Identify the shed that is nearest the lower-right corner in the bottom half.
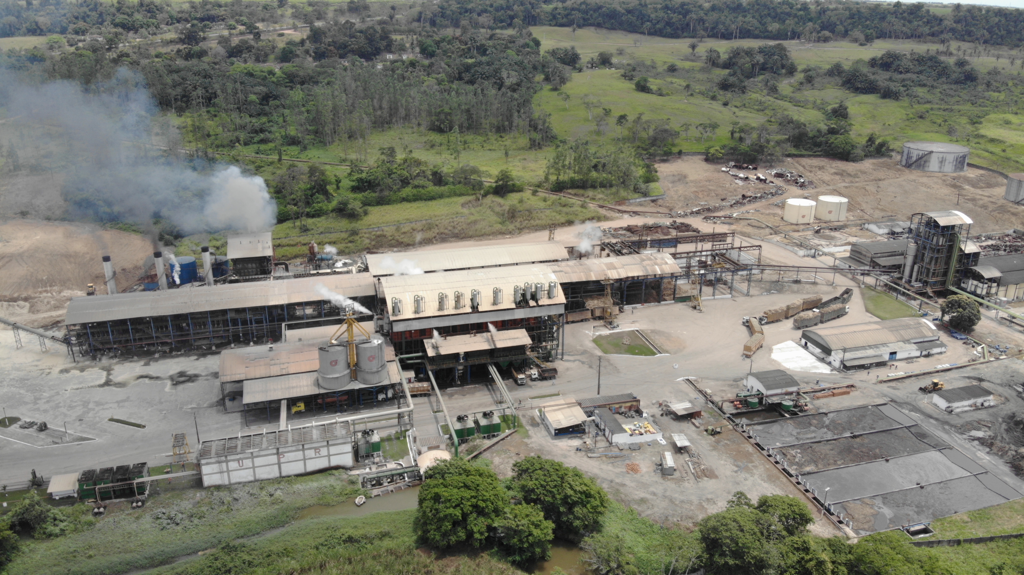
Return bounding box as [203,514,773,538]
[928,383,996,411]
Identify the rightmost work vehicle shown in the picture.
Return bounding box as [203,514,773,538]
[918,376,937,397]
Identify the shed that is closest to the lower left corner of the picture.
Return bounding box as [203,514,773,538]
[42,469,87,504]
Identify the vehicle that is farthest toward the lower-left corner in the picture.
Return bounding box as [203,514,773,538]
[81,284,97,297]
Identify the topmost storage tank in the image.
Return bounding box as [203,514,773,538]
[902,142,971,176]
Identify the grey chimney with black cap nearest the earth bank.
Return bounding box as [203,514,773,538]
[102,255,120,295]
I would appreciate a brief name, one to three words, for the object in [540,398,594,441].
building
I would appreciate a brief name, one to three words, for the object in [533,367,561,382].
vehicle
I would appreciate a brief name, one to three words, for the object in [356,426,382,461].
cooling tower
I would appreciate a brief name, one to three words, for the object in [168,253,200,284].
storage tank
